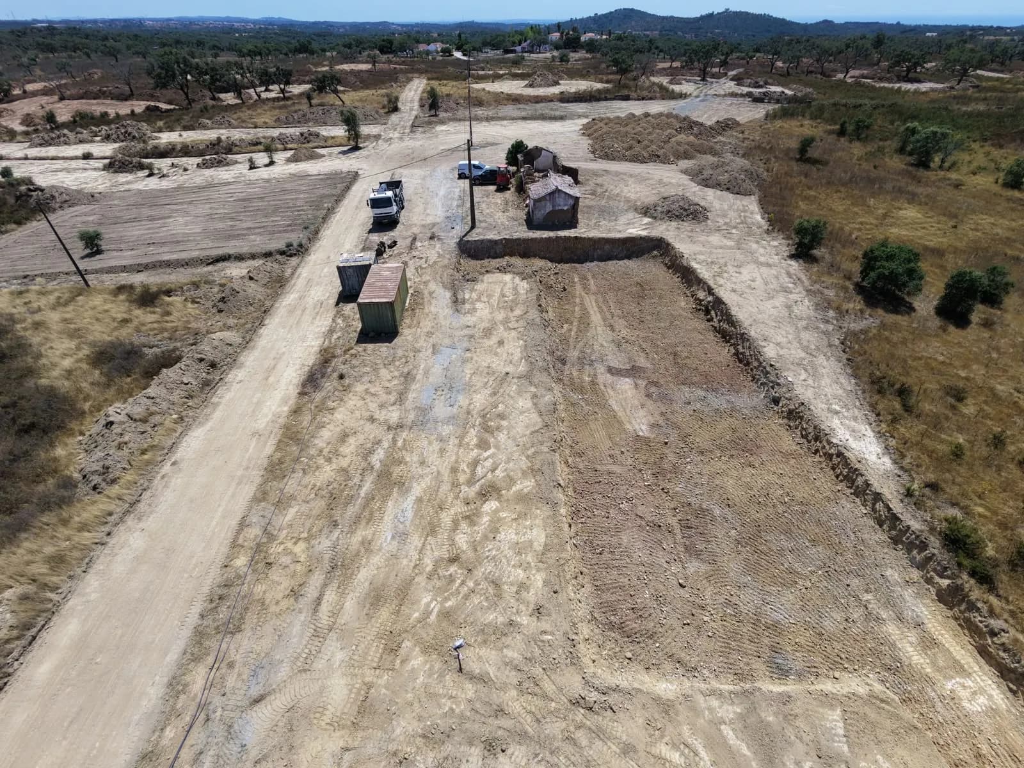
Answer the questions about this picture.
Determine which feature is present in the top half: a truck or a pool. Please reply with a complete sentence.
Visible in the top half is a truck.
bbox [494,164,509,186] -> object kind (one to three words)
work vehicle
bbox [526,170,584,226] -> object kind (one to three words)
house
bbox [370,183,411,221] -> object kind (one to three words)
truck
